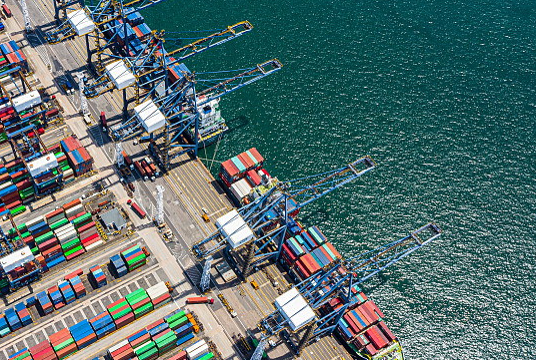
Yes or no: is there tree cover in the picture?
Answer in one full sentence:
No, tree cover can't be seen anywhere here.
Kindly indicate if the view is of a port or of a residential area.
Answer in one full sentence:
This image shows a port.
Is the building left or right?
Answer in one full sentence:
The building sits on the left side.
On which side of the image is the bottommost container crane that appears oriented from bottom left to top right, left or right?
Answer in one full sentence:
It is on the right.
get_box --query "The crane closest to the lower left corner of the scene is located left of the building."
[0,209,44,292]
